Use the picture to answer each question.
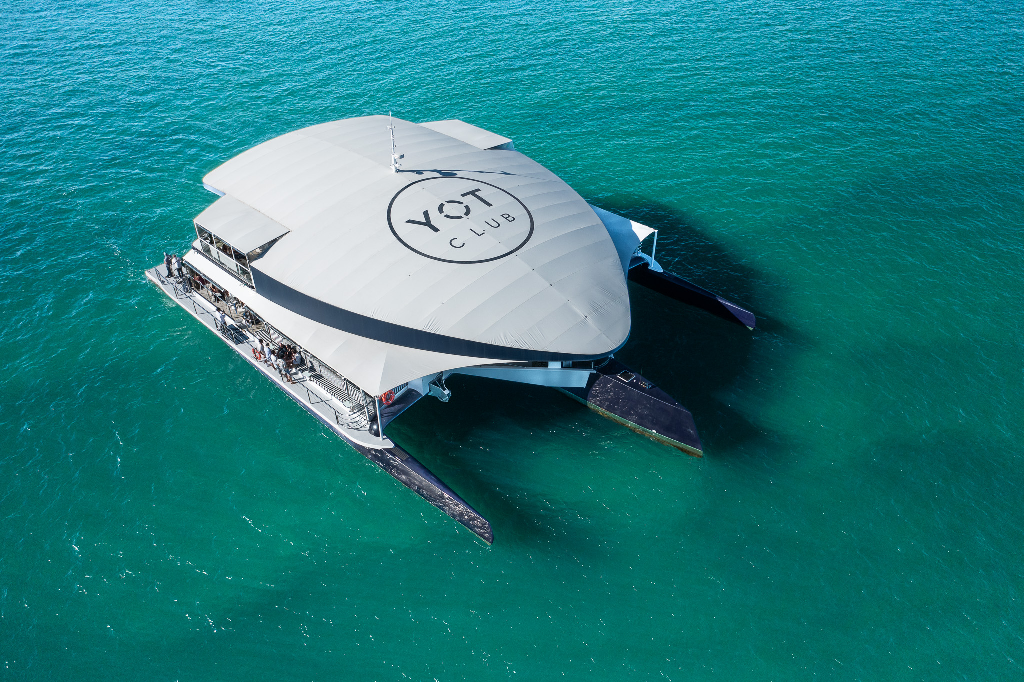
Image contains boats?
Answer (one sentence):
Yes, I can see a boat in this picture.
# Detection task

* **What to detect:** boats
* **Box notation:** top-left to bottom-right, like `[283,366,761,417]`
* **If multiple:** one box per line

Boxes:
[147,111,757,546]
